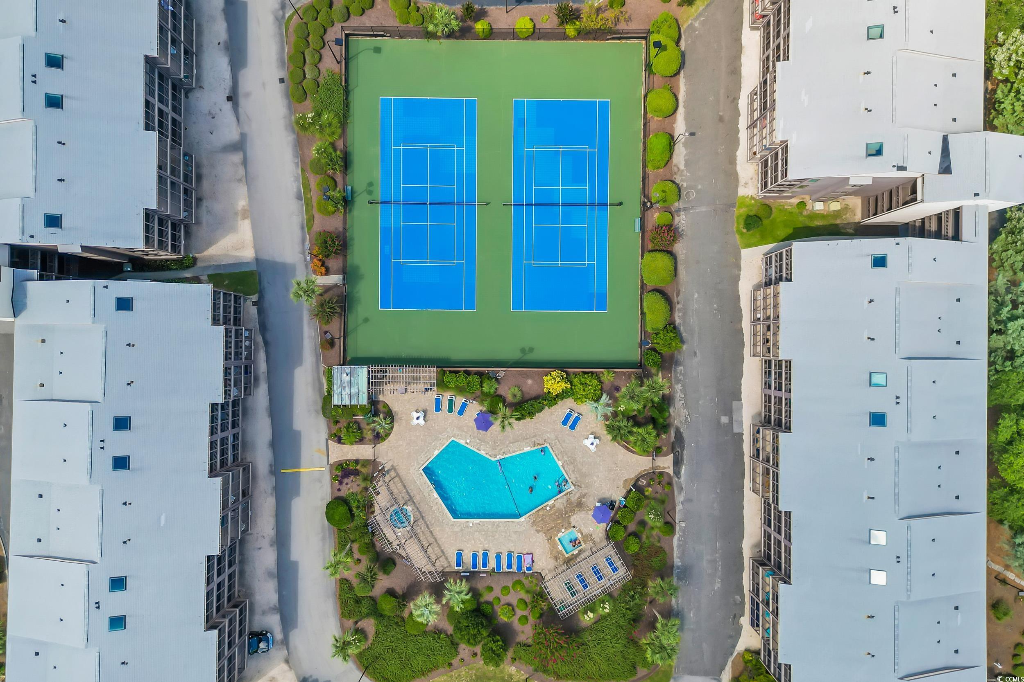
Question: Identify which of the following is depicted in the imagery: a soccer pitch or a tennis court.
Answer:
tennis court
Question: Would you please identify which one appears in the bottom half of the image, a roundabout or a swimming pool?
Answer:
swimming pool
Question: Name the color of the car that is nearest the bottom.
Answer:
blue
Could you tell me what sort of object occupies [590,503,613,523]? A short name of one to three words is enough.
umbrella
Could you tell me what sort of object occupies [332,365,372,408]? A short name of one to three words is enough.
shed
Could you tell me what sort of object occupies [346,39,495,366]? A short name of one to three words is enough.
tennis court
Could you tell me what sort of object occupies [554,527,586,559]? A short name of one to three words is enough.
swimming pool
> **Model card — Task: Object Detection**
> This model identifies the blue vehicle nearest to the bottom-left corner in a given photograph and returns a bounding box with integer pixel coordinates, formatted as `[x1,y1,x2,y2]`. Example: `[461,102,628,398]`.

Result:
[250,635,277,657]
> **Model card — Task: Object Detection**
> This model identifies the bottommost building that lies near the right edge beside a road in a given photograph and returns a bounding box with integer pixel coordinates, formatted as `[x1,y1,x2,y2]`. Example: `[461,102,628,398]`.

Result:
[747,236,987,682]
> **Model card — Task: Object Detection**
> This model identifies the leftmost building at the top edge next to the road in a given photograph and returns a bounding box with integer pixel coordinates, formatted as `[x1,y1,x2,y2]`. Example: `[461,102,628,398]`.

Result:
[0,0,199,264]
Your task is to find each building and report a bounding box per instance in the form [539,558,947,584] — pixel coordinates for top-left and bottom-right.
[747,236,987,682]
[11,277,258,682]
[745,0,985,205]
[332,365,372,408]
[0,0,199,264]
